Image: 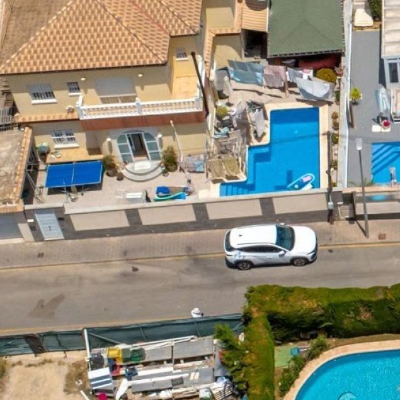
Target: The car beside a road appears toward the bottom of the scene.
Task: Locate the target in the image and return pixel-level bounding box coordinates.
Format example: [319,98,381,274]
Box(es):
[222,221,319,273]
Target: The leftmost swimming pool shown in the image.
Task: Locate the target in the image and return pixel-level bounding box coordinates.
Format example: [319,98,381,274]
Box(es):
[212,103,327,202]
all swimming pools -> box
[282,339,400,400]
[212,103,327,202]
[372,142,400,183]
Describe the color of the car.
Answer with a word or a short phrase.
white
